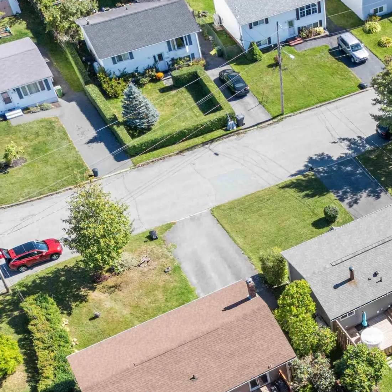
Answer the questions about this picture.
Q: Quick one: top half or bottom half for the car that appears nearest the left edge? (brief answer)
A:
bottom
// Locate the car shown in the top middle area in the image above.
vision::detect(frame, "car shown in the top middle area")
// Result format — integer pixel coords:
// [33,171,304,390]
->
[216,69,251,99]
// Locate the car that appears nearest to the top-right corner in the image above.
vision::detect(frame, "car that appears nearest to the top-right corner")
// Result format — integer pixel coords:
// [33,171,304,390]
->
[336,30,370,62]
